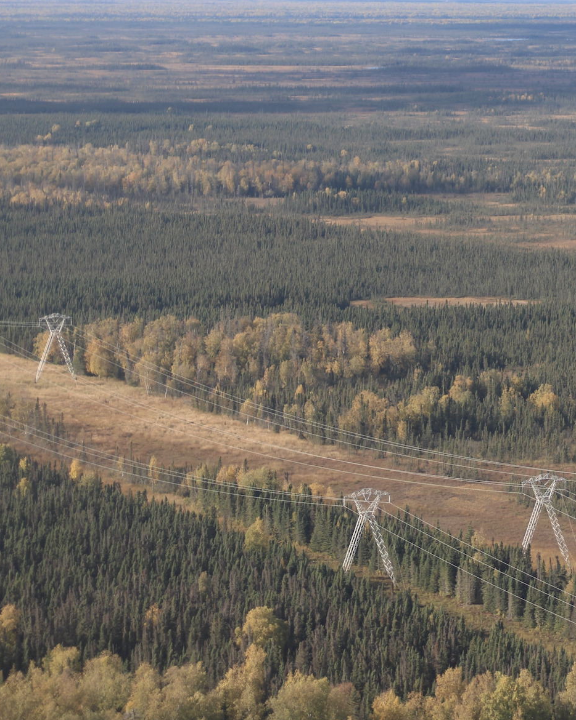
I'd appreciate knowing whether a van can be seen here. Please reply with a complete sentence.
No, the frame has no van in it.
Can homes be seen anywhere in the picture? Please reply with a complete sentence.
No, this view has no home in it.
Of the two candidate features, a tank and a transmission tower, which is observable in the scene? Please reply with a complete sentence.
The image shows a transmission tower.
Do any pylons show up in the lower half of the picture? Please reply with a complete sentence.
Yes, a pylon is visible in the lower half of the picture.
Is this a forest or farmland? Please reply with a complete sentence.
This image shows a forest.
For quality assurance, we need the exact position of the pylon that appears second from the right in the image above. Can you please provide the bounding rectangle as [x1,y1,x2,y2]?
[335,485,406,585]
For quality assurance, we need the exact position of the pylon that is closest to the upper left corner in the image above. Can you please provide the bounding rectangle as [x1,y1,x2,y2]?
[37,313,77,382]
